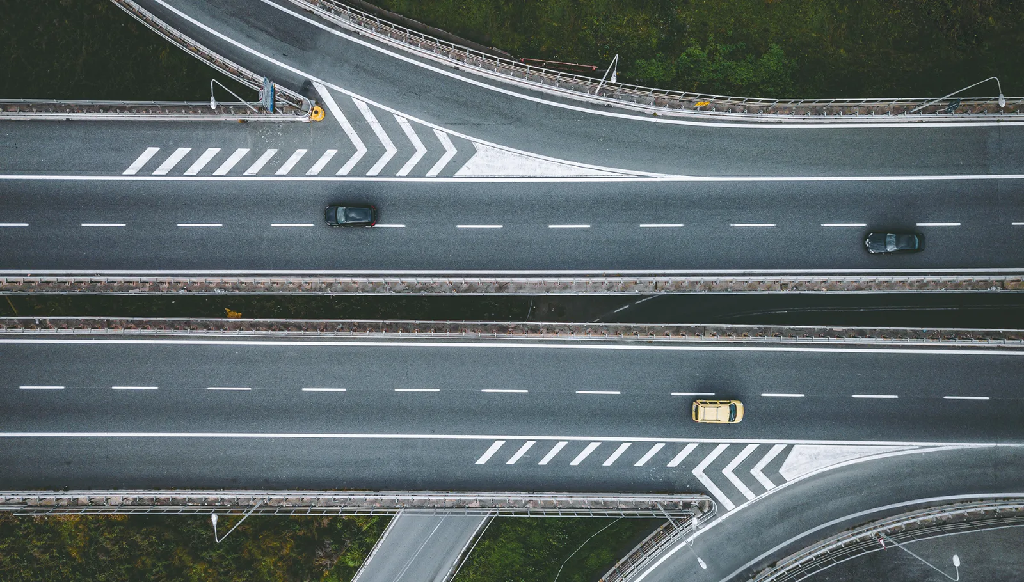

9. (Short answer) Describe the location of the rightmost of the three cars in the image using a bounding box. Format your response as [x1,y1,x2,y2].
[865,228,924,256]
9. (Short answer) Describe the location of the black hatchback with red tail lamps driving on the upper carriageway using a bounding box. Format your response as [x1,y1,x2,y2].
[325,202,376,230]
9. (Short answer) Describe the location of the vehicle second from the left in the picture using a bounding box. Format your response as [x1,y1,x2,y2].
[692,398,744,427]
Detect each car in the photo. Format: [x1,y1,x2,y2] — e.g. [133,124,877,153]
[865,228,924,256]
[325,202,376,230]
[692,398,744,427]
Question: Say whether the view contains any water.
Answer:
No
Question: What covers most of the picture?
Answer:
paved ground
